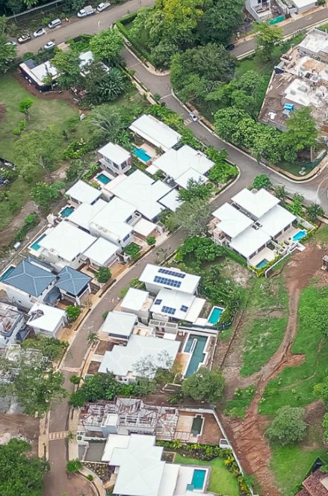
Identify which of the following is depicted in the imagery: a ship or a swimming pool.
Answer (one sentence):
The image shows a swimming pool.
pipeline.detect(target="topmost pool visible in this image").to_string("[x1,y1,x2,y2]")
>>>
[132,146,153,163]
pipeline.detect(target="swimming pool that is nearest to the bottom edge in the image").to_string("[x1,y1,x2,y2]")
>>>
[190,467,208,492]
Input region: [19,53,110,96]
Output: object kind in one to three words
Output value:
house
